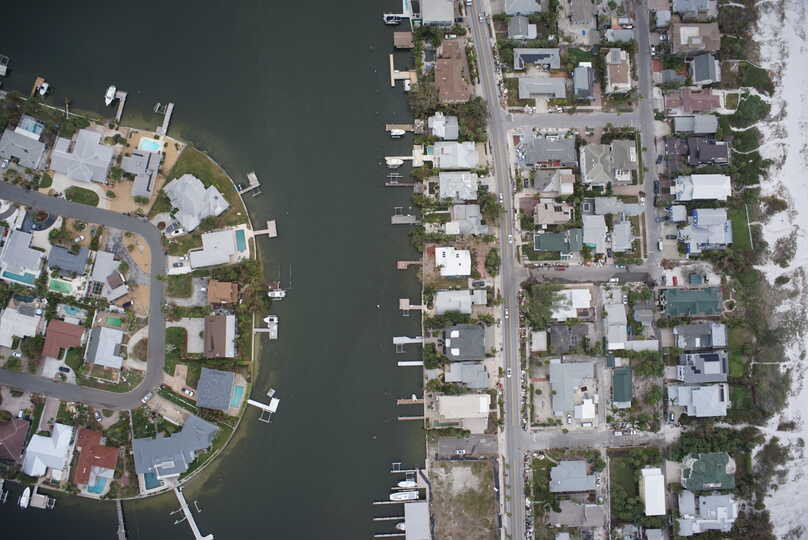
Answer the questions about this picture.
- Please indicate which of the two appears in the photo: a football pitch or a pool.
pool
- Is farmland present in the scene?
No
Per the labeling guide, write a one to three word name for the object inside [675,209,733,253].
house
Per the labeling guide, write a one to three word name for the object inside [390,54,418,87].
pier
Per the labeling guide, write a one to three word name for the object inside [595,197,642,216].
house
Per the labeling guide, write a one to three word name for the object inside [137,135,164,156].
swimming pool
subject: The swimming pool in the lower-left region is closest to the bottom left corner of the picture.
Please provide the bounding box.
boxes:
[80,477,112,497]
